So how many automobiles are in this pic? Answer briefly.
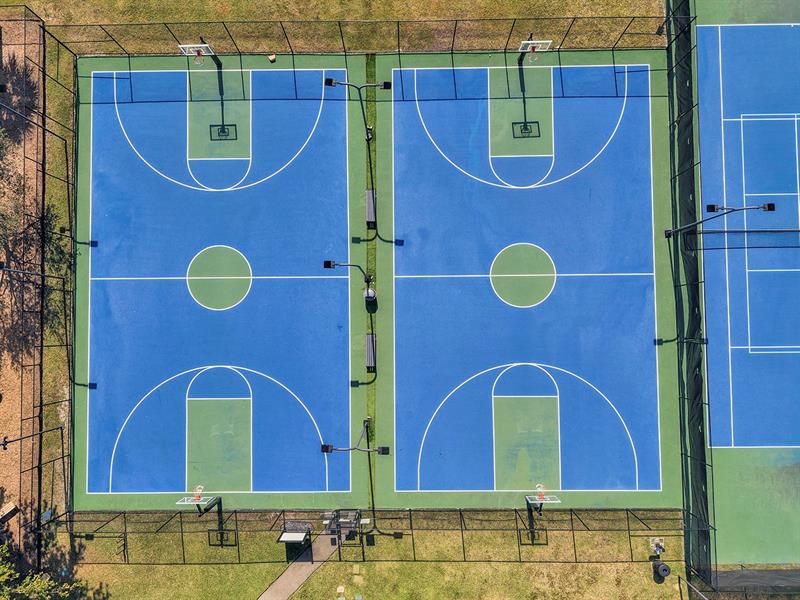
0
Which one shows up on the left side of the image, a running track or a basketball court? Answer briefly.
basketball court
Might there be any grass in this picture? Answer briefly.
Yes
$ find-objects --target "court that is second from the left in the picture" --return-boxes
[375,49,682,508]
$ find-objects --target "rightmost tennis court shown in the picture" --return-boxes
[666,0,800,564]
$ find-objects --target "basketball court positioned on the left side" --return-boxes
[70,52,369,509]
